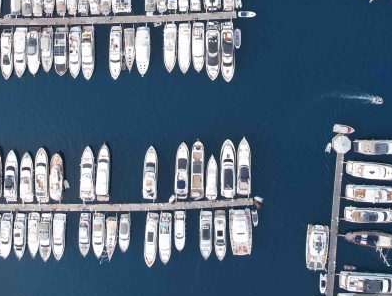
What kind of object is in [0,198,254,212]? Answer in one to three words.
pier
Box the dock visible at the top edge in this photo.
[0,11,236,25]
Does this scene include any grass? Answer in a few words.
No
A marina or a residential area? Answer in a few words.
marina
